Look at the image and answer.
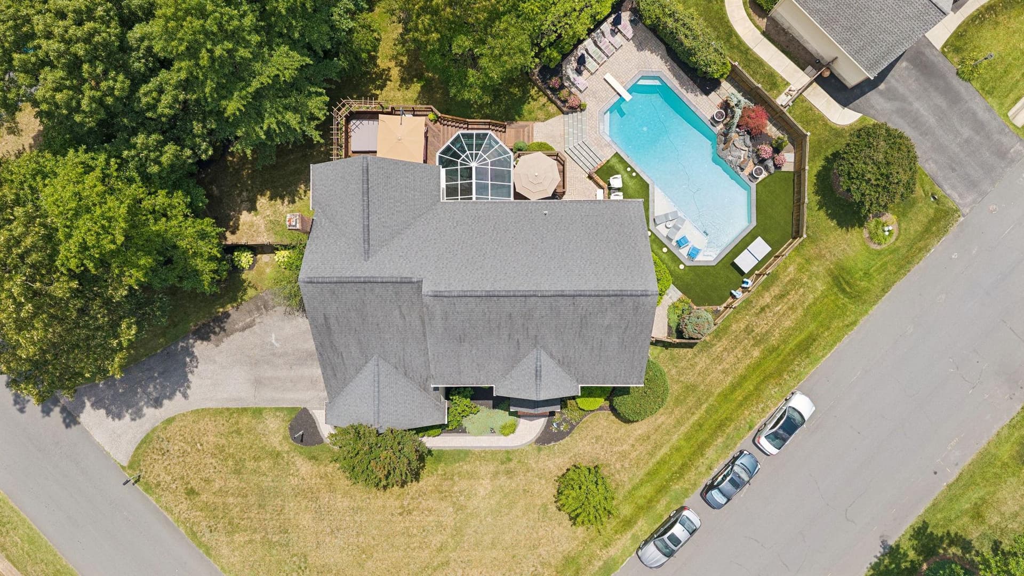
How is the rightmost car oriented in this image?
diagonally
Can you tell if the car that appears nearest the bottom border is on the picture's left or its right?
right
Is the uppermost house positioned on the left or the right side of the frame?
right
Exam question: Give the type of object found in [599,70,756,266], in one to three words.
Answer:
swimming pool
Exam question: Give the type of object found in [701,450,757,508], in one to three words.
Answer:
car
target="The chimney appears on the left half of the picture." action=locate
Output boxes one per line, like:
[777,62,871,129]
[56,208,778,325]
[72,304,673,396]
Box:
[287,214,318,236]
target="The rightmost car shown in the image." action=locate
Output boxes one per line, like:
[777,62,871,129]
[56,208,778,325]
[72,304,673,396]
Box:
[752,393,810,454]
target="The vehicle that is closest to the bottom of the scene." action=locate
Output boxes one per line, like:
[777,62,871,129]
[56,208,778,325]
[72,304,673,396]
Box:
[640,506,698,565]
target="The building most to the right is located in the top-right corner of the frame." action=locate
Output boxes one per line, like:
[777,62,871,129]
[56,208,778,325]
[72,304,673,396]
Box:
[774,0,954,87]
